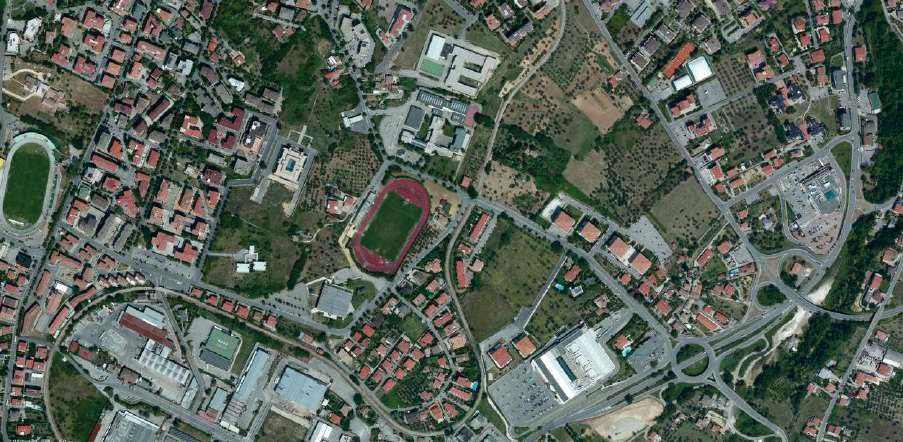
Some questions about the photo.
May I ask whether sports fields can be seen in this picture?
Yes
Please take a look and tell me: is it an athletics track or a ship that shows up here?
athletics track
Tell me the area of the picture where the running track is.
center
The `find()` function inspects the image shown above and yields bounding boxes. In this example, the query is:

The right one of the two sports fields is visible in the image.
[363,192,422,262]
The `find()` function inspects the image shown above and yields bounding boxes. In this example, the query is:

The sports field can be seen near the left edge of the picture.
[4,144,50,228]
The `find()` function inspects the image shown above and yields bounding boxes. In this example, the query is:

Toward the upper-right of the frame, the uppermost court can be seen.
[698,79,725,105]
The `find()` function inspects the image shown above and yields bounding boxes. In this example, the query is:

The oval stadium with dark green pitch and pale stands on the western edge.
[0,134,60,237]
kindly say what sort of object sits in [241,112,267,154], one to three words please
building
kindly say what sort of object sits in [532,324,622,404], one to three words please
building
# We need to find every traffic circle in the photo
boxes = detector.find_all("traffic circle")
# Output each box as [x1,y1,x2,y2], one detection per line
[672,338,715,382]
